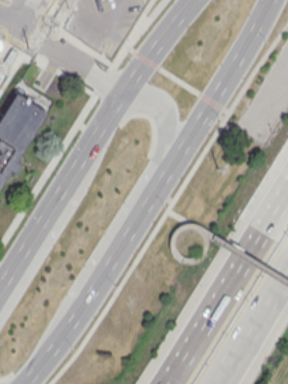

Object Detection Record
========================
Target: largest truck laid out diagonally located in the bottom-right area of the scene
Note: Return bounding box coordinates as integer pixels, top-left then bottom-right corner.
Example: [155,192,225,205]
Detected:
[208,294,232,329]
